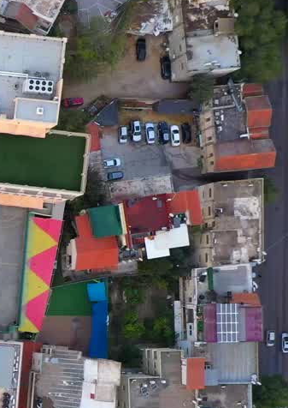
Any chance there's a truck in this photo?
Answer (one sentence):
No, the frame has no truck in it.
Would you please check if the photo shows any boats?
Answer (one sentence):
No, the scene contains no boat.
